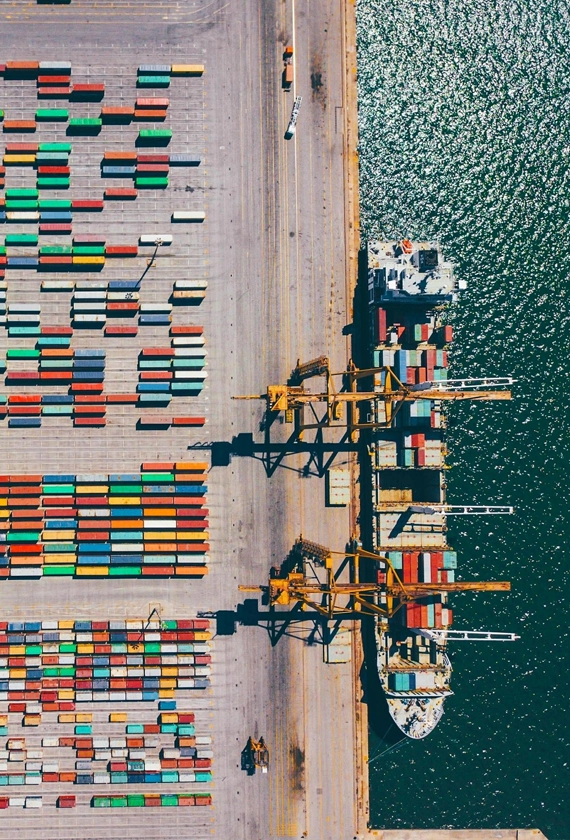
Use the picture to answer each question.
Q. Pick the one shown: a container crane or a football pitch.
container crane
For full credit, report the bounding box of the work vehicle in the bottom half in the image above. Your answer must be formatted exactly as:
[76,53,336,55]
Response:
[248,733,268,773]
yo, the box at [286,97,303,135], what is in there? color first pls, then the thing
white vehicle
